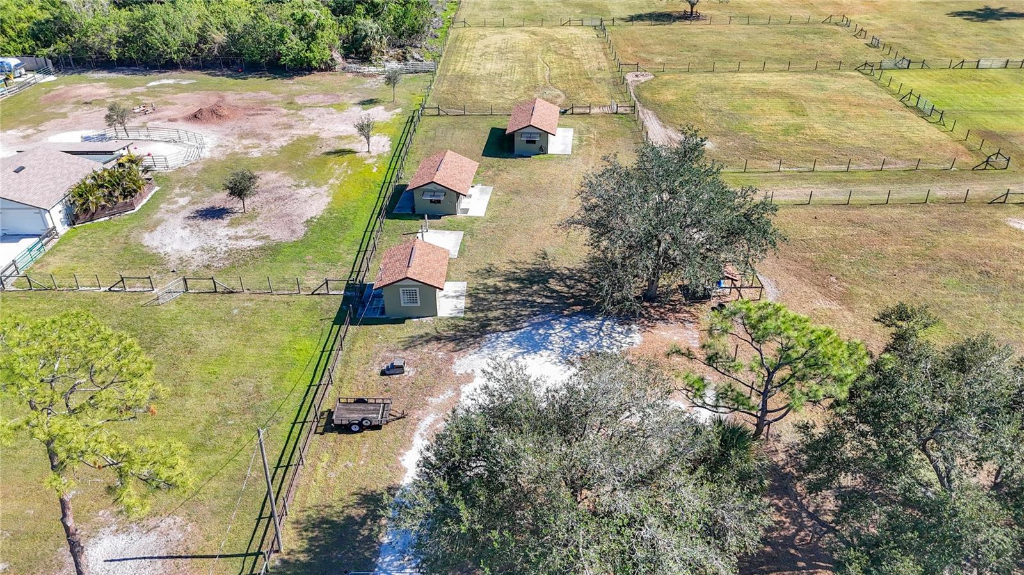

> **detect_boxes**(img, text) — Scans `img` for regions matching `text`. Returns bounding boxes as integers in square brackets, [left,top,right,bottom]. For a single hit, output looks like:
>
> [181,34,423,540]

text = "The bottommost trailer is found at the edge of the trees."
[330,396,415,435]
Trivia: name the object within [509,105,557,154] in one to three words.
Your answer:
house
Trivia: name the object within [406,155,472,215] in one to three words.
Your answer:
house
